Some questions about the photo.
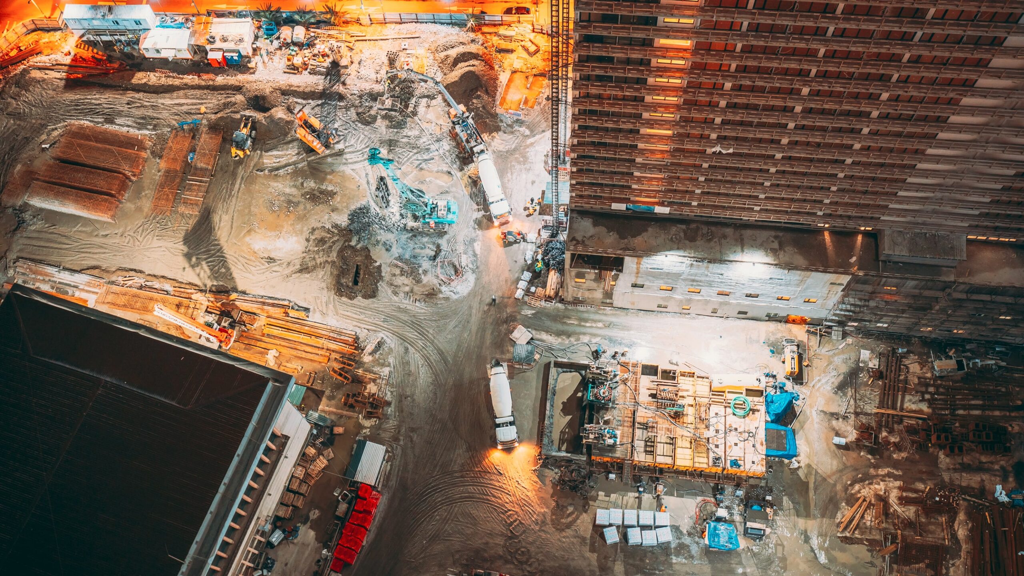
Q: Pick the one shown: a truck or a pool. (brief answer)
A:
truck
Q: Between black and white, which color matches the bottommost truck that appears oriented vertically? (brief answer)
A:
white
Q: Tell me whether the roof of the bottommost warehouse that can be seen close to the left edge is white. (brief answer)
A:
No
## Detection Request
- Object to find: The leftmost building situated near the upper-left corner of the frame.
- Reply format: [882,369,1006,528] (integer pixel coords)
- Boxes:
[62,4,156,56]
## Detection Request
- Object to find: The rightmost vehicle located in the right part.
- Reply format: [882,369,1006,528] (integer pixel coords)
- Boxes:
[781,339,799,374]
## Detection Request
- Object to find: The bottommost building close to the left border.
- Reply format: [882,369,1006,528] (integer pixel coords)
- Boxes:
[0,284,296,576]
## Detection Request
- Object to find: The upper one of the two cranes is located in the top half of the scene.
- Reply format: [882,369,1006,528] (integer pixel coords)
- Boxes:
[366,144,458,241]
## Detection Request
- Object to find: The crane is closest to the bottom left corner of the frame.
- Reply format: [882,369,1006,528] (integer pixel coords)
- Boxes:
[153,302,244,356]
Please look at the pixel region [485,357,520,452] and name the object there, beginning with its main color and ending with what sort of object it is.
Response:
white truck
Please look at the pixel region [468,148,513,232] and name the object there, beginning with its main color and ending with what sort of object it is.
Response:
white truck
